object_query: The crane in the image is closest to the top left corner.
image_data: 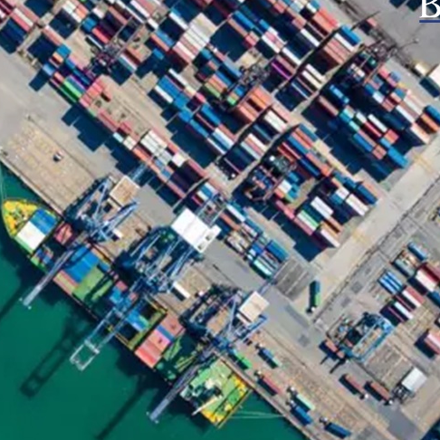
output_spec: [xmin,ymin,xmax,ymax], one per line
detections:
[87,15,143,81]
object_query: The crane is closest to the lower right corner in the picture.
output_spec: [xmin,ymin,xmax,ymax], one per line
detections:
[331,305,397,366]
